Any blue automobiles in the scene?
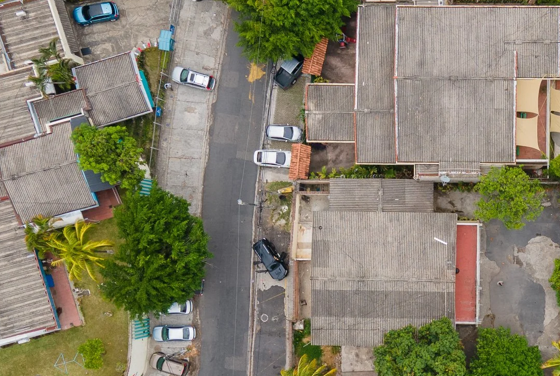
Yes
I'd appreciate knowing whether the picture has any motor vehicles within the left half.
Yes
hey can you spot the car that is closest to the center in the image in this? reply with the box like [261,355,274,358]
[254,149,292,168]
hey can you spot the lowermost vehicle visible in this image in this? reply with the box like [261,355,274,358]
[150,352,192,376]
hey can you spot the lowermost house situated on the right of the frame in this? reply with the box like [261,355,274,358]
[312,180,483,346]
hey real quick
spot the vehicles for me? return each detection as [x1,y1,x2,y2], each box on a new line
[75,2,122,25]
[174,66,218,92]
[268,51,307,93]
[157,300,198,317]
[254,149,292,168]
[249,237,289,280]
[266,124,304,143]
[150,352,192,376]
[155,324,198,343]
